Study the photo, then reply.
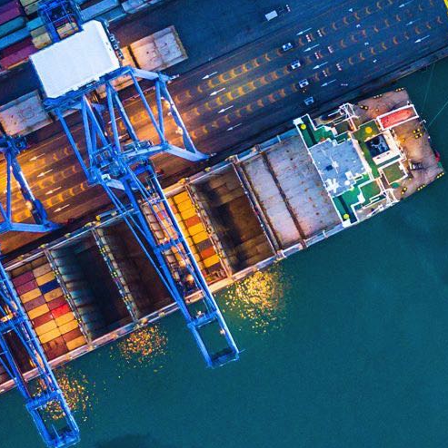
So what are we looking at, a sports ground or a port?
port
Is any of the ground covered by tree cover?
No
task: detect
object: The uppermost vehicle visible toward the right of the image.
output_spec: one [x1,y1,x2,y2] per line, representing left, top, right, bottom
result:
[263,4,292,21]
